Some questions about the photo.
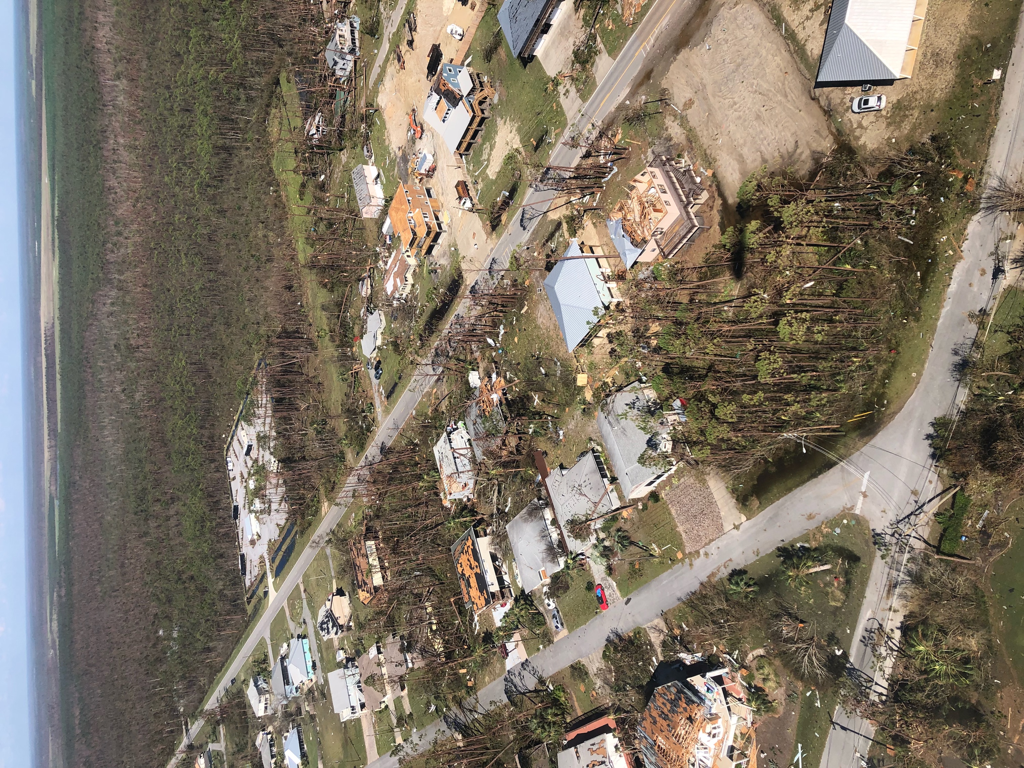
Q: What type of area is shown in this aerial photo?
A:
residential area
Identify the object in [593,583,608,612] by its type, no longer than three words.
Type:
car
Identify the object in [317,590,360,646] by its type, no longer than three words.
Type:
house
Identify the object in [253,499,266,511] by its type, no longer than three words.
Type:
vehicle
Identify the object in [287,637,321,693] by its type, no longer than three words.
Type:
house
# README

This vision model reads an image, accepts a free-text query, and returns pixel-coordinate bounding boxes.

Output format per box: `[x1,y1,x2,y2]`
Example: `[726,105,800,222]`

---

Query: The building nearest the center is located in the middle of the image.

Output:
[463,370,517,463]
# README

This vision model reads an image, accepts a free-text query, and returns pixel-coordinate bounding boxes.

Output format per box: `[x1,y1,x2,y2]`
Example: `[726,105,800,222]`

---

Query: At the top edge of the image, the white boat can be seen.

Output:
[443,23,461,41]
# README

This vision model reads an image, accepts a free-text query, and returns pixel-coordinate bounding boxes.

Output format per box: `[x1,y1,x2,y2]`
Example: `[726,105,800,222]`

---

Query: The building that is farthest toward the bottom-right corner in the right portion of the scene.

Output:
[637,668,754,768]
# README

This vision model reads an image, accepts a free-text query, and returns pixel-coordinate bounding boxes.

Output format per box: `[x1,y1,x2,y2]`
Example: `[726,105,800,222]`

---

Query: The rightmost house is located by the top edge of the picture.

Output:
[817,0,931,84]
